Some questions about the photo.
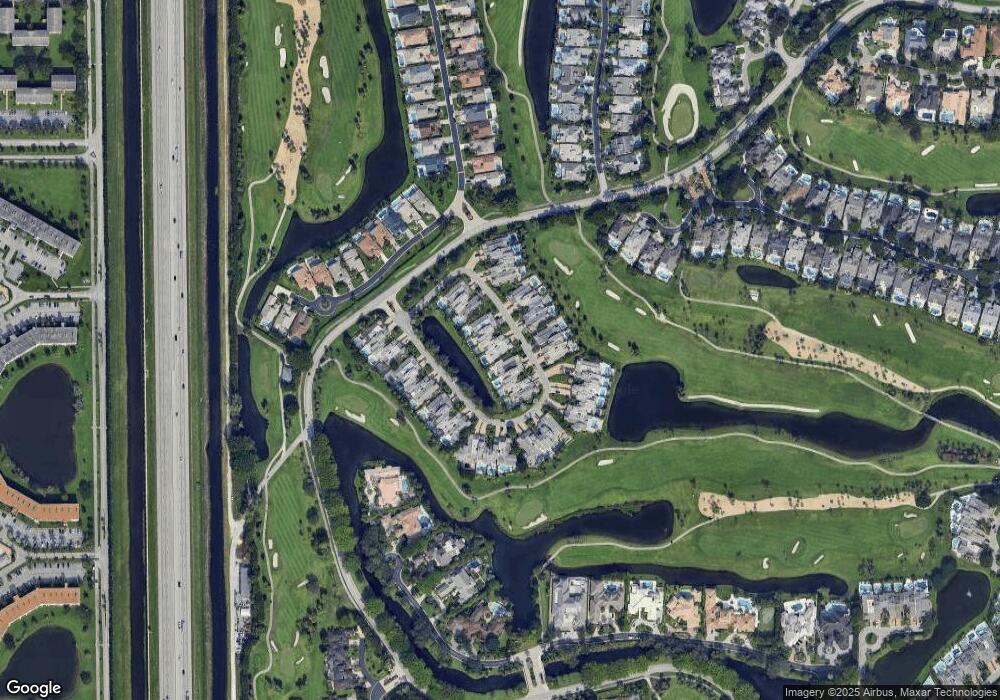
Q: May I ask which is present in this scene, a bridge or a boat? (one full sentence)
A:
Looking from above, you can make out a bridge.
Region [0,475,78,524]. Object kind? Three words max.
building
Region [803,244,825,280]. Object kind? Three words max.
house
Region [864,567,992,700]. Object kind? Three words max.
pond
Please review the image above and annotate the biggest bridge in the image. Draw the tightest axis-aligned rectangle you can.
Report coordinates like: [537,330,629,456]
[512,644,551,695]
